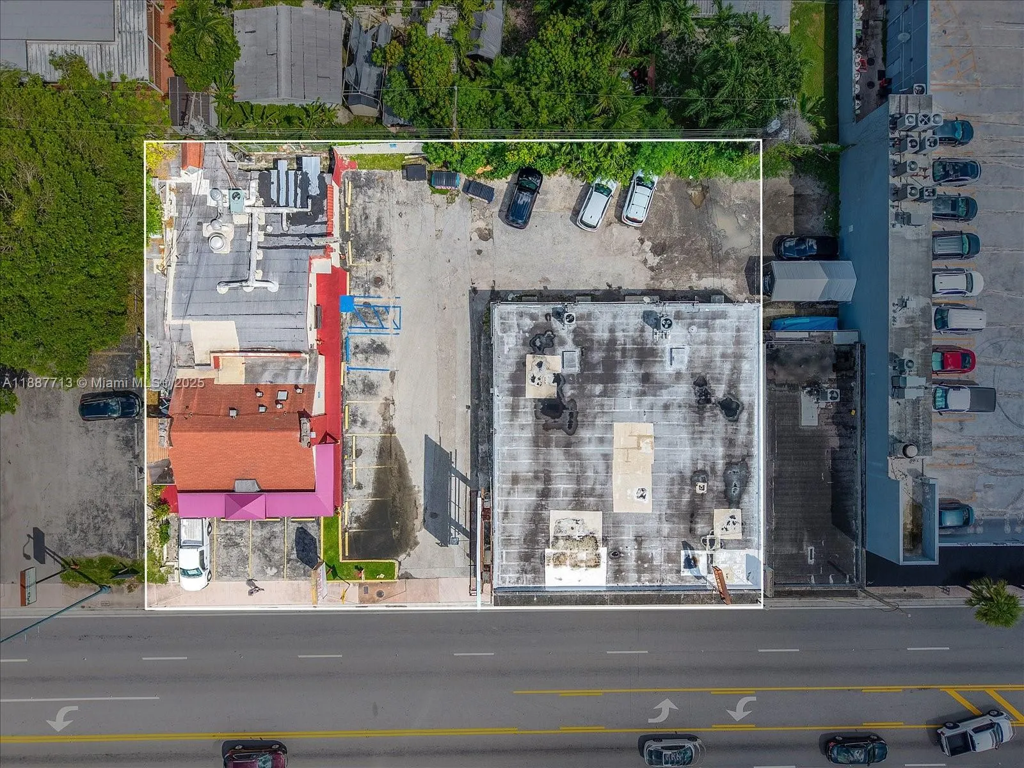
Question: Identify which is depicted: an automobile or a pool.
automobile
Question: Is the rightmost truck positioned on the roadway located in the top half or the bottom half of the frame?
bottom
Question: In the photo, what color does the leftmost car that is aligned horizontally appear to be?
black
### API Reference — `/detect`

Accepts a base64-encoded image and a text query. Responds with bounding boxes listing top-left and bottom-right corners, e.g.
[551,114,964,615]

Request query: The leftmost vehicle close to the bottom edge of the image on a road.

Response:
[224,737,290,768]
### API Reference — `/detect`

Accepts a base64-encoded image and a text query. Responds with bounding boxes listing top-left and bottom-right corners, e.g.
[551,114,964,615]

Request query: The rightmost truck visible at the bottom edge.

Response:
[934,709,1012,757]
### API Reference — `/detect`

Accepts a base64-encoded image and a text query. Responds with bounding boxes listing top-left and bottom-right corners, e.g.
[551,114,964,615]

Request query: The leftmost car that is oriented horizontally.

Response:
[78,390,147,421]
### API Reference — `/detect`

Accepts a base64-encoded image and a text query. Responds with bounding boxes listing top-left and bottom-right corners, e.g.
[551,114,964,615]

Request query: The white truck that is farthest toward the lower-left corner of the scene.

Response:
[176,517,212,588]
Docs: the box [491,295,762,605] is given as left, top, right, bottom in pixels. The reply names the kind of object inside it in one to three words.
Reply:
building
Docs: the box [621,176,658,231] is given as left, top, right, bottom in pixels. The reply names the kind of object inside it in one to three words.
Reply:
car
